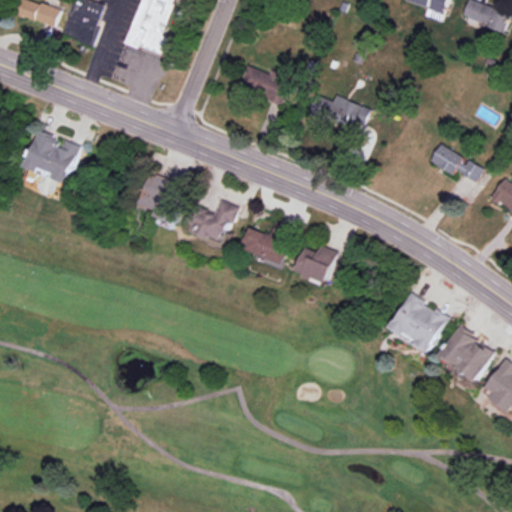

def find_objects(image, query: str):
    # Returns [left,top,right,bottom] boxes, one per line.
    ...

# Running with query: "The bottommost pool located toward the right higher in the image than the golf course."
[474,102,505,130]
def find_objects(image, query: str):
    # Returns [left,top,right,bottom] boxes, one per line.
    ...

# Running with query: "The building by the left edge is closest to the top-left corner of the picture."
[14,0,64,28]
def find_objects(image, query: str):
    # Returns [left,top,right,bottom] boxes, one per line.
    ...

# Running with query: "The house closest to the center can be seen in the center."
[242,227,292,270]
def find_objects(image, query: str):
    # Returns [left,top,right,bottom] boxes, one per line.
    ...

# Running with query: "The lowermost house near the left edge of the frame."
[23,132,84,201]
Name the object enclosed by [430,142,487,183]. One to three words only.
house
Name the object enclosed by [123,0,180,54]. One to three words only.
building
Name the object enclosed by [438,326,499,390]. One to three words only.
house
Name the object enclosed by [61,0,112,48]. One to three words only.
building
